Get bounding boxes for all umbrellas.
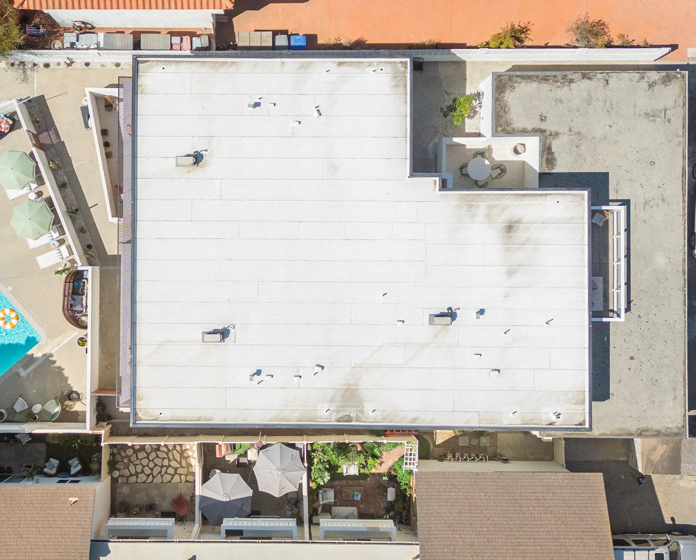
[0,147,37,191]
[253,440,264,450]
[200,472,254,523]
[253,442,302,497]
[11,195,54,240]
